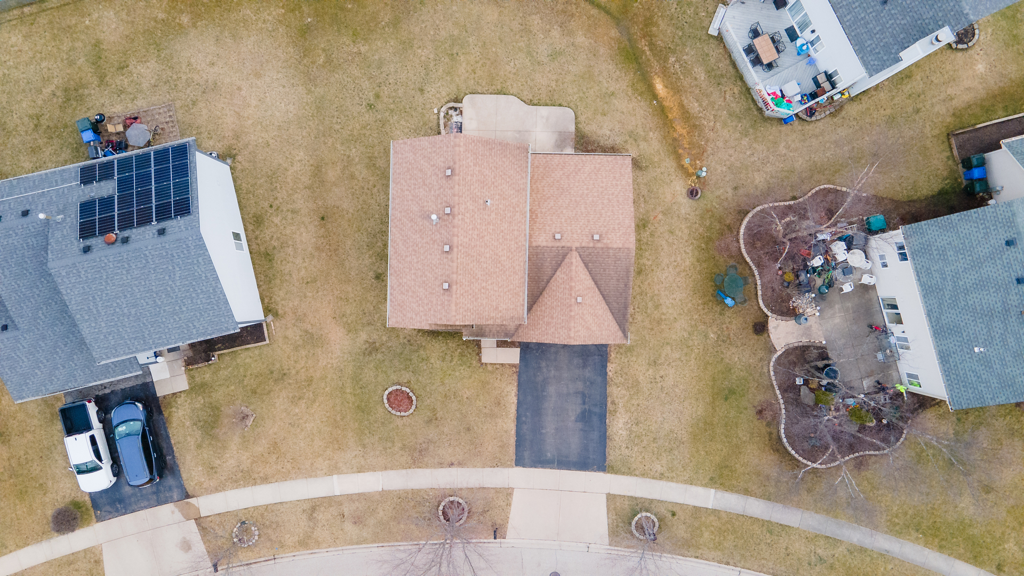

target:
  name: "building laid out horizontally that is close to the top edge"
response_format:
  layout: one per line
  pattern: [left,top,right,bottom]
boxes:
[784,0,1006,102]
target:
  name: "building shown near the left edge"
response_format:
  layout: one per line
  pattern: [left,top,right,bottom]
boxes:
[0,137,270,406]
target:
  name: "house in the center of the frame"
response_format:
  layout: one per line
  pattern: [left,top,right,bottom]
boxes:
[385,134,635,344]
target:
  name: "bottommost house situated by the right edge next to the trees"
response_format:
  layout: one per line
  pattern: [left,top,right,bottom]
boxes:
[868,133,1024,410]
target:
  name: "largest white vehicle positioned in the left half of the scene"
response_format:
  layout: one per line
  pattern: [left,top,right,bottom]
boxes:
[60,396,119,495]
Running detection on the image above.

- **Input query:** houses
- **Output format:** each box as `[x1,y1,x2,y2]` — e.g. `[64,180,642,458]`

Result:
[868,133,1024,410]
[0,137,270,406]
[784,0,1006,102]
[385,134,635,344]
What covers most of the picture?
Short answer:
grass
